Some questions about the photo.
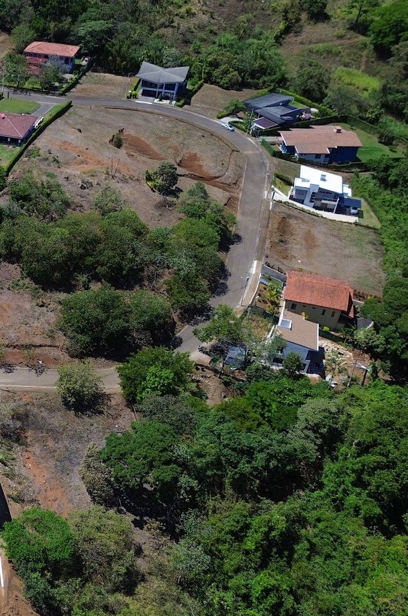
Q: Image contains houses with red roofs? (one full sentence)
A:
Yes, the picture does show a house with a red roof.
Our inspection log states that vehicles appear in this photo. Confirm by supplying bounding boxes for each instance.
[345,208,365,217]
[220,123,237,130]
